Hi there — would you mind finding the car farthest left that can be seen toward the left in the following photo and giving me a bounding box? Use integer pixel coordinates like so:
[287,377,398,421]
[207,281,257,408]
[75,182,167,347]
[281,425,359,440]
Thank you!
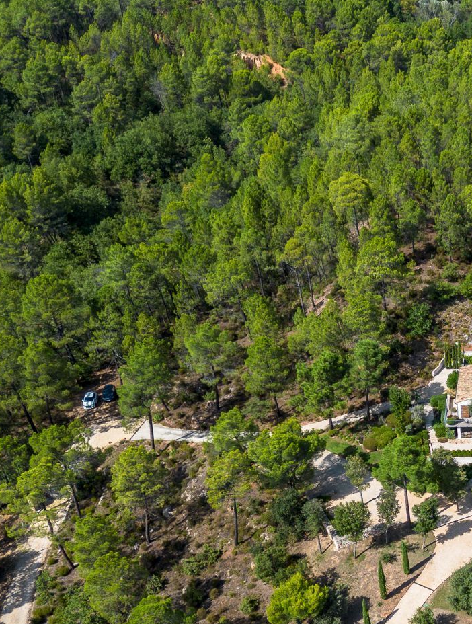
[79,391,96,410]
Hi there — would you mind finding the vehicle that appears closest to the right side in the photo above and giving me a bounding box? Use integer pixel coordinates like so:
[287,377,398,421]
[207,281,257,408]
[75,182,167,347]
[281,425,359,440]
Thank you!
[99,383,116,402]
